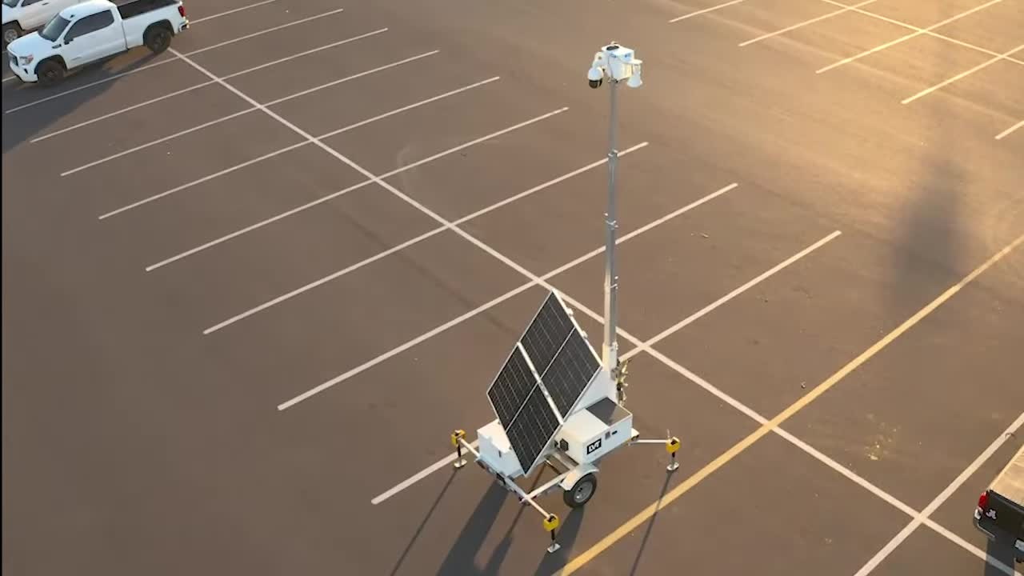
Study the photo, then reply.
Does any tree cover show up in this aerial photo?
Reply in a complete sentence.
No, no tree cover is visible.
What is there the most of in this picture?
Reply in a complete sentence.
For the most part, this view shows paved ground.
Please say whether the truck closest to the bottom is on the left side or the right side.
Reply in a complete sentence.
The truck closest to the bottom appears in the right half of the scene.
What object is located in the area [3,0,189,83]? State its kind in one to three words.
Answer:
truck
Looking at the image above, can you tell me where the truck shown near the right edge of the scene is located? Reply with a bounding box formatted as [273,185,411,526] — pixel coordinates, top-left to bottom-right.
[977,458,1024,567]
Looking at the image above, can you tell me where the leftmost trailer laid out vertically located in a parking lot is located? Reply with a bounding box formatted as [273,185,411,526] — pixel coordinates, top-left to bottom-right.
[450,43,681,554]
